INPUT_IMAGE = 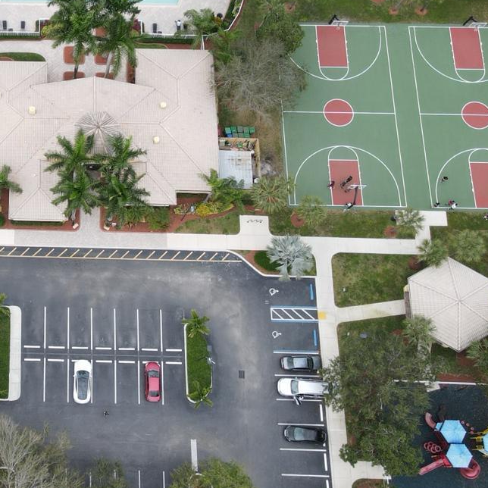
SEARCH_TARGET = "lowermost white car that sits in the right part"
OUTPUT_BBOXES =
[275,378,325,406]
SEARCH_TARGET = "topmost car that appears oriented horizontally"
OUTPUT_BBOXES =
[278,353,321,373]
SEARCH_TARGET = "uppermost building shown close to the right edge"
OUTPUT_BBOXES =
[394,257,488,353]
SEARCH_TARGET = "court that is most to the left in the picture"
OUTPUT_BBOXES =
[270,20,419,212]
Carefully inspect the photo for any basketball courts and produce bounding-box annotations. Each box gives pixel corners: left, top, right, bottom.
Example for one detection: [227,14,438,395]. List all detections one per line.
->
[396,21,488,214]
[270,20,419,212]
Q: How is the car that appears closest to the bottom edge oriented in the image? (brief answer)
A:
from left to right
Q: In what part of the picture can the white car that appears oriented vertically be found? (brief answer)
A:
bottom left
